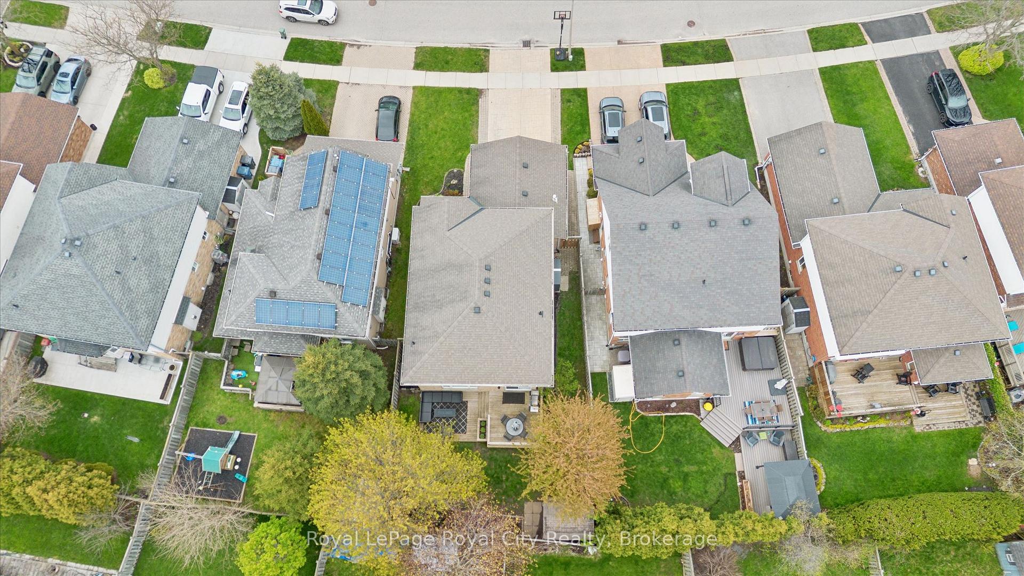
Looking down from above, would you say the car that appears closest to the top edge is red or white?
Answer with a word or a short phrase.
white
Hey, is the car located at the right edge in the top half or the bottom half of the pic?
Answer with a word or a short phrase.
top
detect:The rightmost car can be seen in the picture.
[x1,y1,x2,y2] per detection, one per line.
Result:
[928,66,975,128]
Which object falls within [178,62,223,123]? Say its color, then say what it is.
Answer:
white truck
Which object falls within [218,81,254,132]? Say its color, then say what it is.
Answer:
white car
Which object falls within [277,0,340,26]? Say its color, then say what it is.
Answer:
white car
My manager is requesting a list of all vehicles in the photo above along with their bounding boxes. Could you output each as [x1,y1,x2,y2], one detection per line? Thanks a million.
[599,98,628,145]
[638,91,674,140]
[277,0,340,26]
[50,54,93,106]
[218,81,254,132]
[178,62,223,123]
[928,66,975,128]
[374,96,402,142]
[14,45,62,97]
